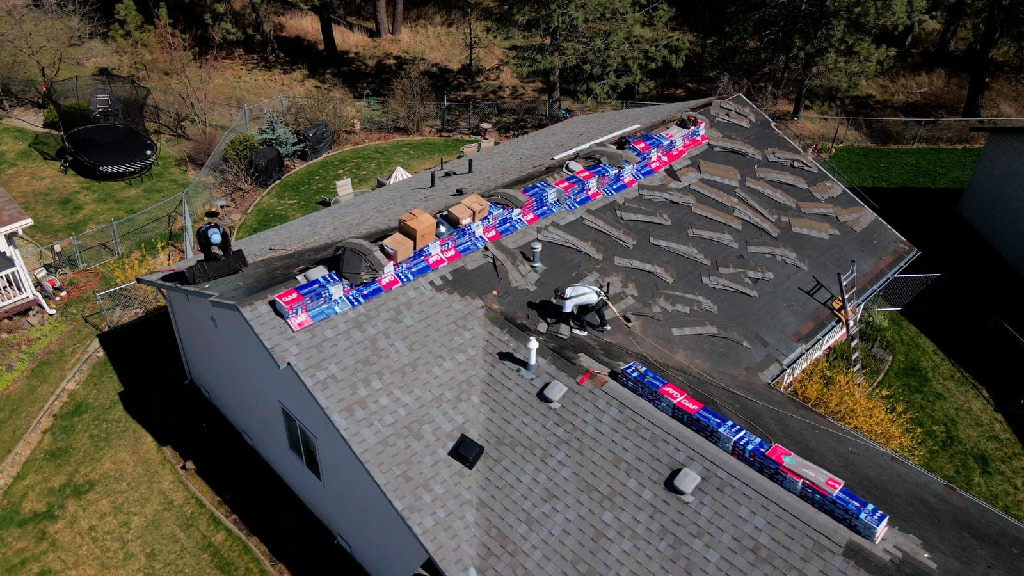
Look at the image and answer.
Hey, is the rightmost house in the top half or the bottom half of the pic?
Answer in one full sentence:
The rightmost house sits in the top half of the picture.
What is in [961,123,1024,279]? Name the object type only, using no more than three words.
house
